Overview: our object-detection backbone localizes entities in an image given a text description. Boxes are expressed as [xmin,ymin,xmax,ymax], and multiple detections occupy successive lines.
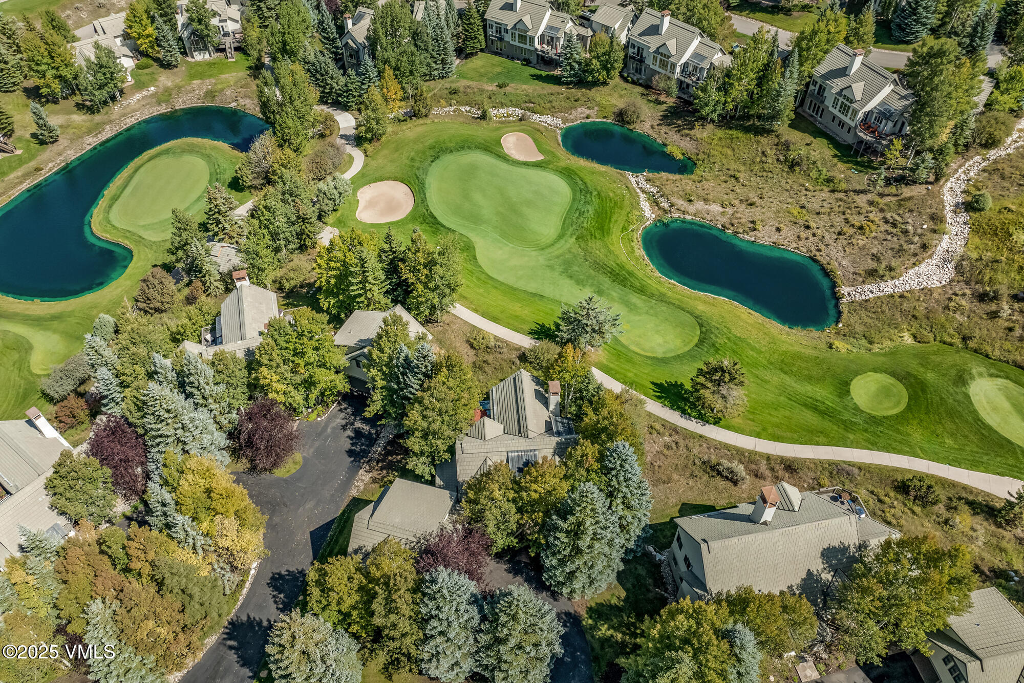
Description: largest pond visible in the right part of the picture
[640,217,842,331]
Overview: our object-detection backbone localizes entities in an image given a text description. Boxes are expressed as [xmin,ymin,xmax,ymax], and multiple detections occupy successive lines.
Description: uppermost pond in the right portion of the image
[560,121,696,175]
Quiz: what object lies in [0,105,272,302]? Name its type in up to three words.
pond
